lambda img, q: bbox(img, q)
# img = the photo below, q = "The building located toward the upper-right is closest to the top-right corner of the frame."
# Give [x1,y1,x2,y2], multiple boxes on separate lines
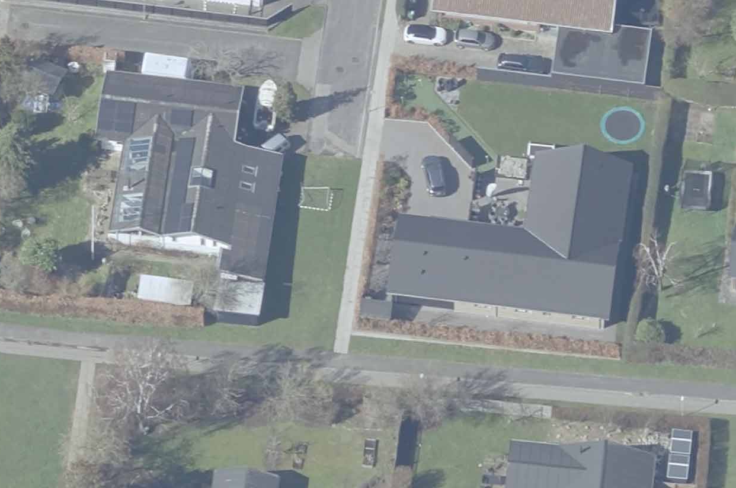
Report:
[551,26,654,96]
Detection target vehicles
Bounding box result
[498,53,546,76]
[422,158,449,198]
[405,26,447,49]
[256,129,294,151]
[452,27,497,52]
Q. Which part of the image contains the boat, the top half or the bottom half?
top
